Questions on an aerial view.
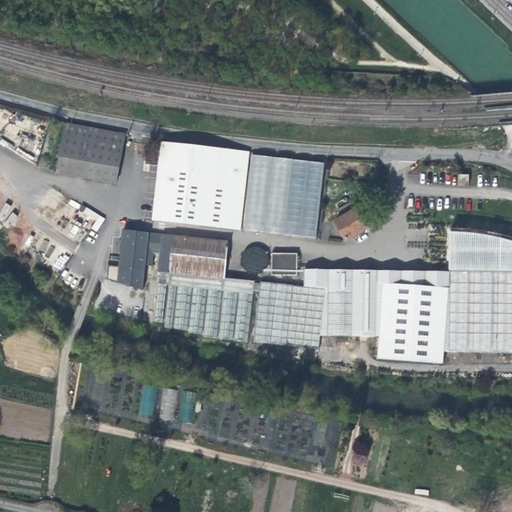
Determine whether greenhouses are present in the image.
Yes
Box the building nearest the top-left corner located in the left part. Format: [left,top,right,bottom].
[55,122,126,186]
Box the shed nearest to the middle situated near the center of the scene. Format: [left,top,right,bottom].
[270,253,298,276]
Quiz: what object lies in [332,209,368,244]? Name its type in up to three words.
house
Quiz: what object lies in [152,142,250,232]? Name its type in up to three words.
building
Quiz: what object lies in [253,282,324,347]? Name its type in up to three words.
greenhouse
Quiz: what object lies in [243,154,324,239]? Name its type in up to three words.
greenhouse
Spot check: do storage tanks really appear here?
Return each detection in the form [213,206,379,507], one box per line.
[241,244,270,274]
